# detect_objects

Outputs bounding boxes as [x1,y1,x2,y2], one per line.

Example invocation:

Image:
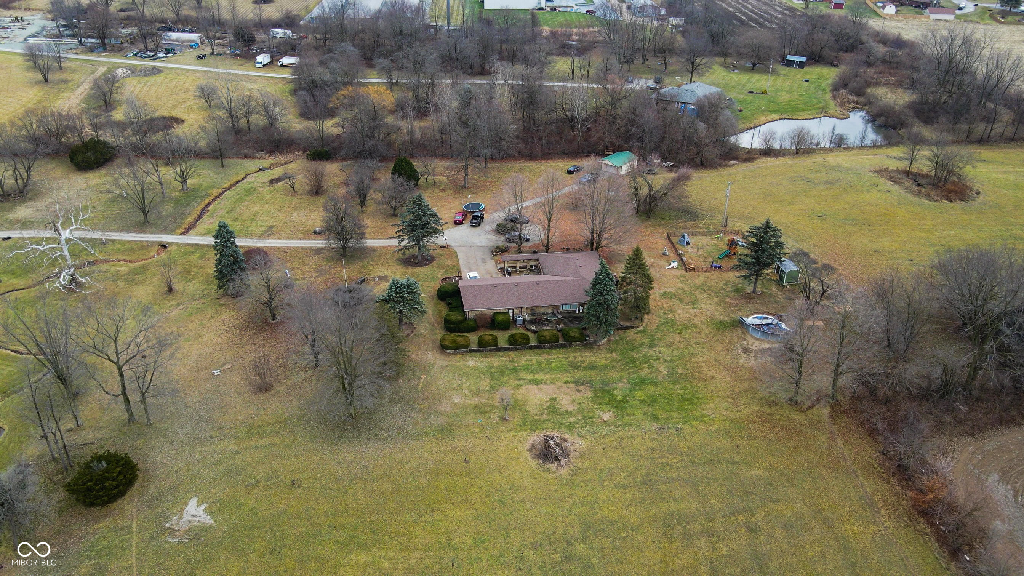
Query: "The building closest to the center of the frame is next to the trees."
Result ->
[460,250,620,322]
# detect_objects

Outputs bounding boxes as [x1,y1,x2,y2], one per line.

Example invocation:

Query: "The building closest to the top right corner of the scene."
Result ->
[925,7,957,20]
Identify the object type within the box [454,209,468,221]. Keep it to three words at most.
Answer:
vehicle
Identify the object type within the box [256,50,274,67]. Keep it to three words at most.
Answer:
vehicle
